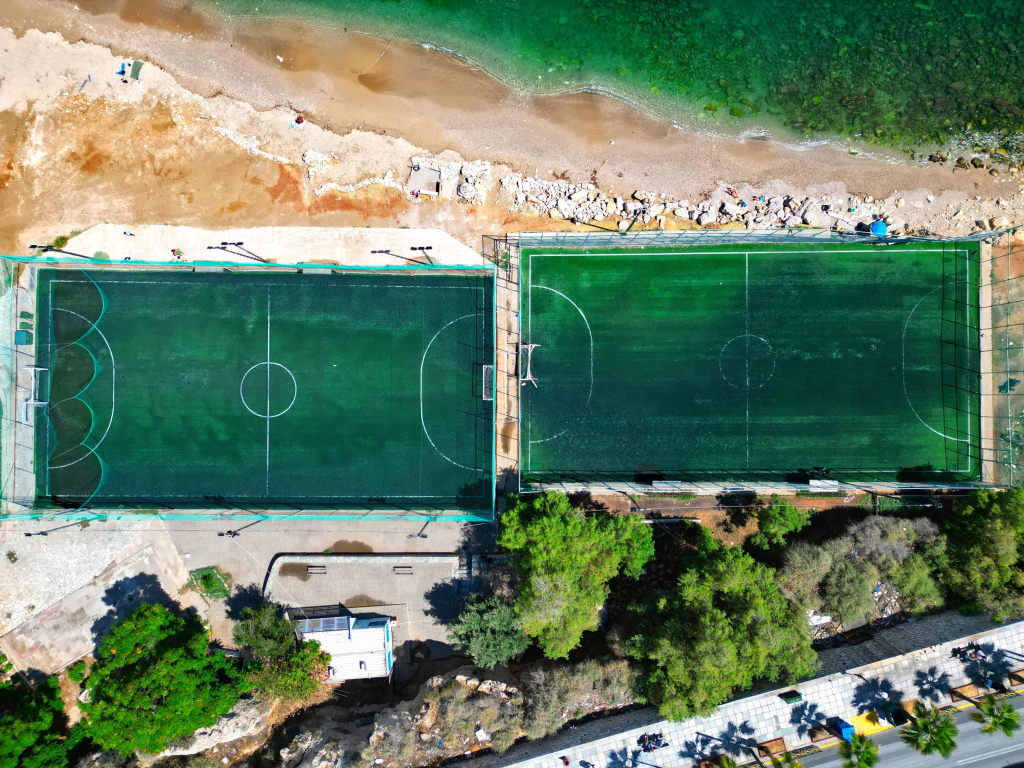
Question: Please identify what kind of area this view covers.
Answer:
sports ground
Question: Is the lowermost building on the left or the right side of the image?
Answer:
left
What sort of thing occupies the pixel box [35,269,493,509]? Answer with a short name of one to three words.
sports field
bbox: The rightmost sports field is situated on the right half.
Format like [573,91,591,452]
[521,241,981,482]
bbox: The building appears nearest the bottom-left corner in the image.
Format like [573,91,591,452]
[297,608,394,683]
